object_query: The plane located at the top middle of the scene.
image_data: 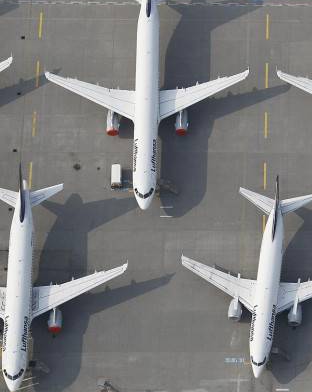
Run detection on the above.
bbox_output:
[46,0,250,210]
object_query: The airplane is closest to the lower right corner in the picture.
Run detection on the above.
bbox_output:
[181,177,312,378]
